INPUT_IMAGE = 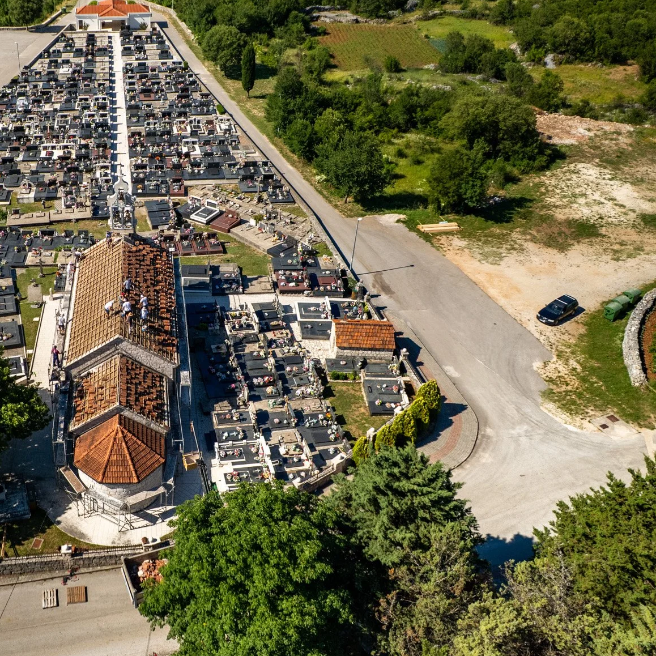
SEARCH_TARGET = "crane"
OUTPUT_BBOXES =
[190,419,221,499]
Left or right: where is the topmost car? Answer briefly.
right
